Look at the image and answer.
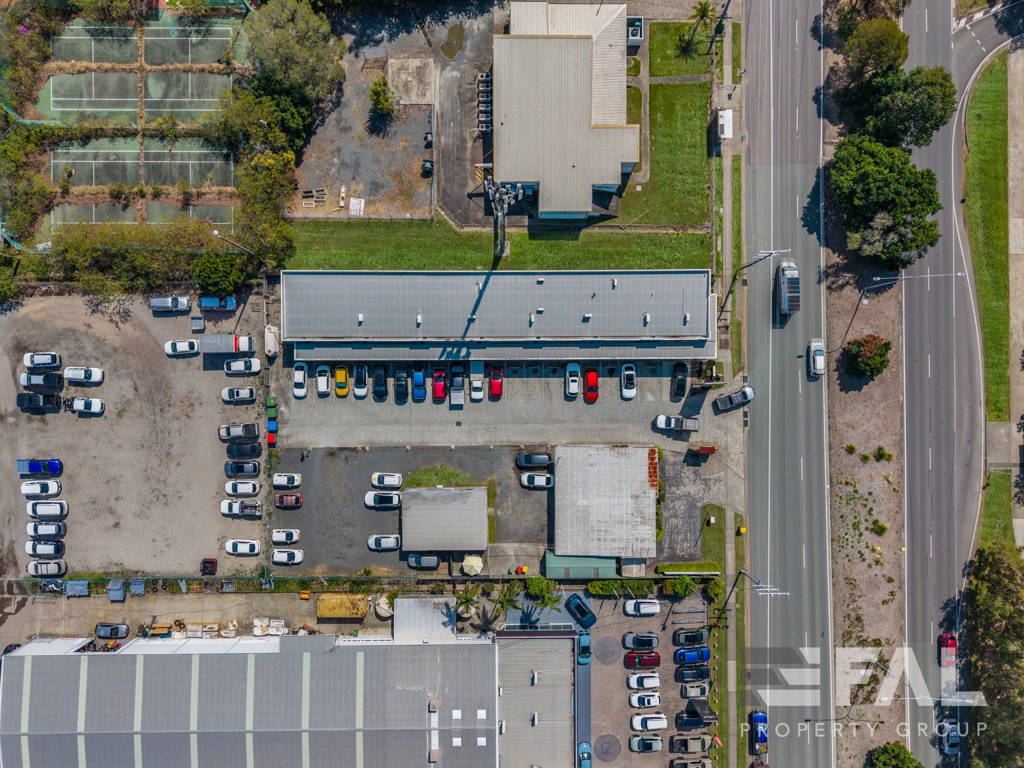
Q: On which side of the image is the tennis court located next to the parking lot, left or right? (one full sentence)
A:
It is on the left.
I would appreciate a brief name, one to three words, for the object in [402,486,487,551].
building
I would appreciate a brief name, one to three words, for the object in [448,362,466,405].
car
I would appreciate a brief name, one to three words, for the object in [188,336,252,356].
vehicle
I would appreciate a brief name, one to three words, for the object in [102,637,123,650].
vehicle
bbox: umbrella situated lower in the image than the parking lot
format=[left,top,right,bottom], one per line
[462,554,484,576]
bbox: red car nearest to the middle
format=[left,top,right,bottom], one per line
[488,365,505,400]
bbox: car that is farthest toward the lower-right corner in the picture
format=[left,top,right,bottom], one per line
[940,718,961,755]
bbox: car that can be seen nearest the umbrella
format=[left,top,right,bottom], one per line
[407,552,442,570]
